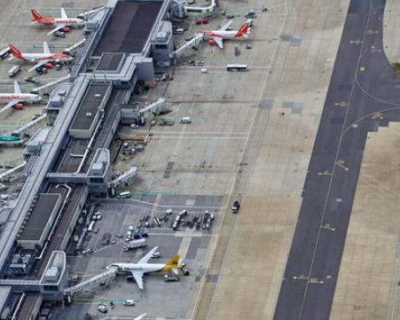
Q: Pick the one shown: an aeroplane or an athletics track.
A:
aeroplane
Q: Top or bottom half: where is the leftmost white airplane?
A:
top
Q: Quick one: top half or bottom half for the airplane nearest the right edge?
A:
top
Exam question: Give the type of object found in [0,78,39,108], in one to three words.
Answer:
airplane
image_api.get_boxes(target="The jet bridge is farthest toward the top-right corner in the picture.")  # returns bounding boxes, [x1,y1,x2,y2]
[184,0,217,16]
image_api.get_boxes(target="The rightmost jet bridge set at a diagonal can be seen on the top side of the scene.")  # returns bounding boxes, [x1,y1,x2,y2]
[169,32,207,60]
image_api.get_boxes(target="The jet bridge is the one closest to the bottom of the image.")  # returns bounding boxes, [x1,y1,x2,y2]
[60,265,122,300]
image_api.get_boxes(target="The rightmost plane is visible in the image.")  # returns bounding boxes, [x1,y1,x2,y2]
[205,16,256,45]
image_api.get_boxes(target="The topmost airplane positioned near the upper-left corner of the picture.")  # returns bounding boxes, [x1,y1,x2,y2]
[28,6,84,33]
